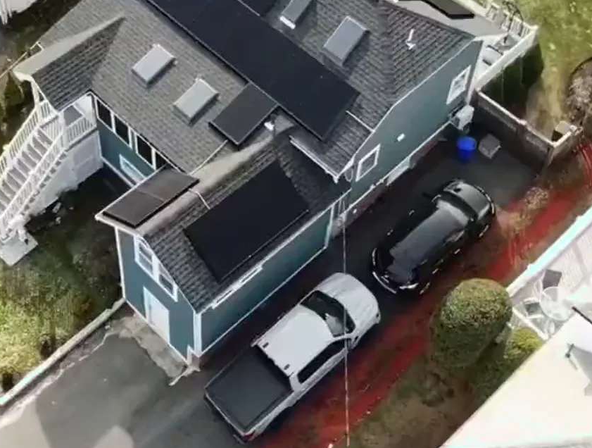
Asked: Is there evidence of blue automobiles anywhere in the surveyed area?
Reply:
No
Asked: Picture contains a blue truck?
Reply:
No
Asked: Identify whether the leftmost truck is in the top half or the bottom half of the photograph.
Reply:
bottom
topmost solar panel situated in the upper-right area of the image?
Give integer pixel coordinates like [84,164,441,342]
[424,0,471,19]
